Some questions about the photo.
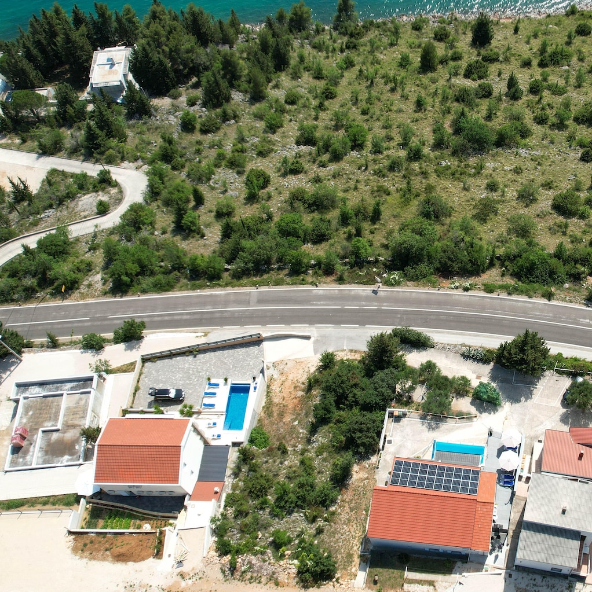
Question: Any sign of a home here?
Yes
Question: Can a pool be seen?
Yes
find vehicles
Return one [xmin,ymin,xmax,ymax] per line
[561,375,577,405]
[145,386,185,403]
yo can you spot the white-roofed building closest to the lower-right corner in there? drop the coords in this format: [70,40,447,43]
[517,473,592,578]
